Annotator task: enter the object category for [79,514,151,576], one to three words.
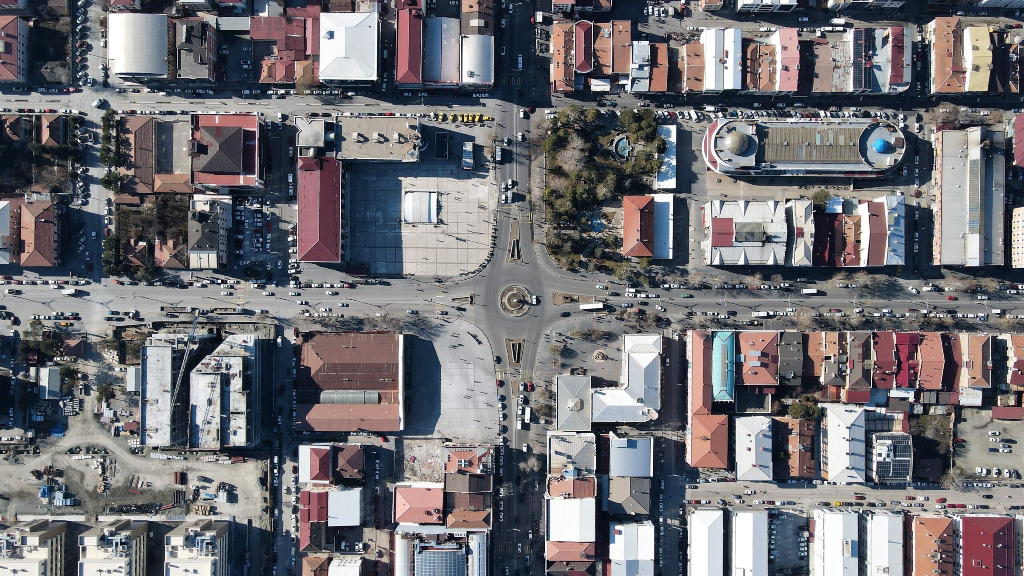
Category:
building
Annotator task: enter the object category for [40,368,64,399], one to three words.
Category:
shed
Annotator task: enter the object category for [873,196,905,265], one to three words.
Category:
building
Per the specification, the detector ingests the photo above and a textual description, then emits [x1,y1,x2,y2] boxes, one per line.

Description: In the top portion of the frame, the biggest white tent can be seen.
[404,191,438,223]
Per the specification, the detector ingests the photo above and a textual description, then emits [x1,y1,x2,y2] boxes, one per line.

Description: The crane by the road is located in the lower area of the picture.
[153,307,215,470]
